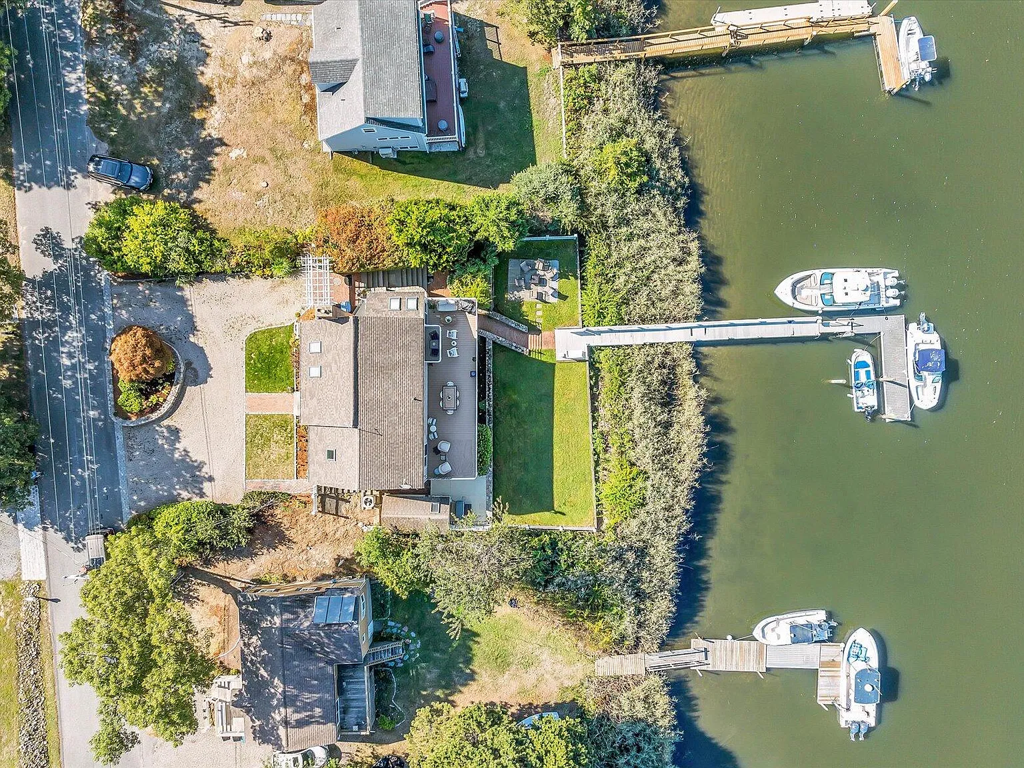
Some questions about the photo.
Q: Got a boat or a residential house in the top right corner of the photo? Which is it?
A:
boat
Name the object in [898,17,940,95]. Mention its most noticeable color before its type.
white boat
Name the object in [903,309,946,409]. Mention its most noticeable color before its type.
white boat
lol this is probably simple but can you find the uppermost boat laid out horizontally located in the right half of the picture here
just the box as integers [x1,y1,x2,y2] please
[774,268,904,311]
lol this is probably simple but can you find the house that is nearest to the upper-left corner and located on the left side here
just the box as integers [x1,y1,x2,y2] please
[305,0,461,157]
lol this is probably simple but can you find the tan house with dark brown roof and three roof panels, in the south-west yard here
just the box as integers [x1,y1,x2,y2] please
[239,580,404,748]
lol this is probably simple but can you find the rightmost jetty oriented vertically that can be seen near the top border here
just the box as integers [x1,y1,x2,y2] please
[870,15,908,95]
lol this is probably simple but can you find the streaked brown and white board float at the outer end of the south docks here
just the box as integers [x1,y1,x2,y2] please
[816,642,844,706]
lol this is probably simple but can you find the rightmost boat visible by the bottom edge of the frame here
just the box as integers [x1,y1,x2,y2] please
[837,628,886,737]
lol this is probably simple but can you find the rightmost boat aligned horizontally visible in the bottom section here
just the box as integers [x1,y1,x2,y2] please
[753,606,841,643]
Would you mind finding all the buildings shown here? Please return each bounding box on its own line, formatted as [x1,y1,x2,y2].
[305,0,461,157]
[299,282,478,496]
[381,493,451,538]
[239,580,404,748]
